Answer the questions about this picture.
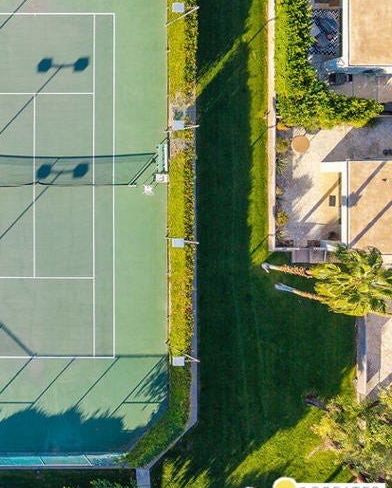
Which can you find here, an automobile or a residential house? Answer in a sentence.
There is a residential house in the scene.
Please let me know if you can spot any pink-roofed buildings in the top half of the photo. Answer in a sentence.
No, no pink-roofed building appears in the top half of the photo.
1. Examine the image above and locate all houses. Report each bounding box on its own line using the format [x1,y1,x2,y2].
[321,0,392,70]
[316,161,392,256]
